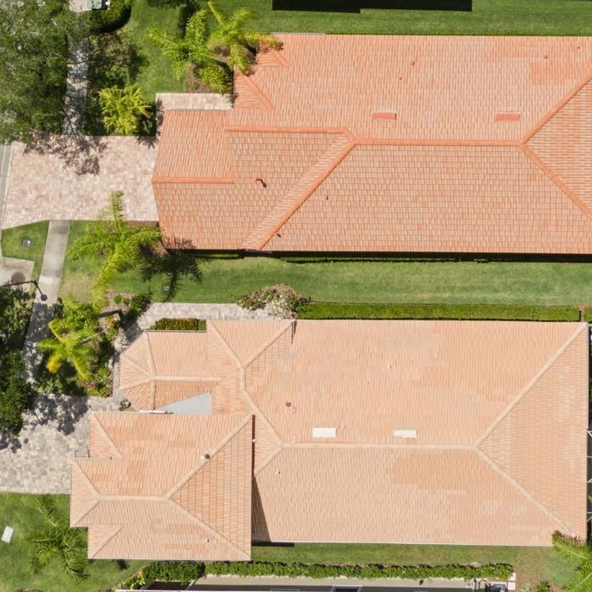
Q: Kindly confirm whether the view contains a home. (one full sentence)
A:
Yes, a home can be made out from above.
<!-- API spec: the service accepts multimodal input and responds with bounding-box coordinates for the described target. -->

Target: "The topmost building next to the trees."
[152,33,592,255]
